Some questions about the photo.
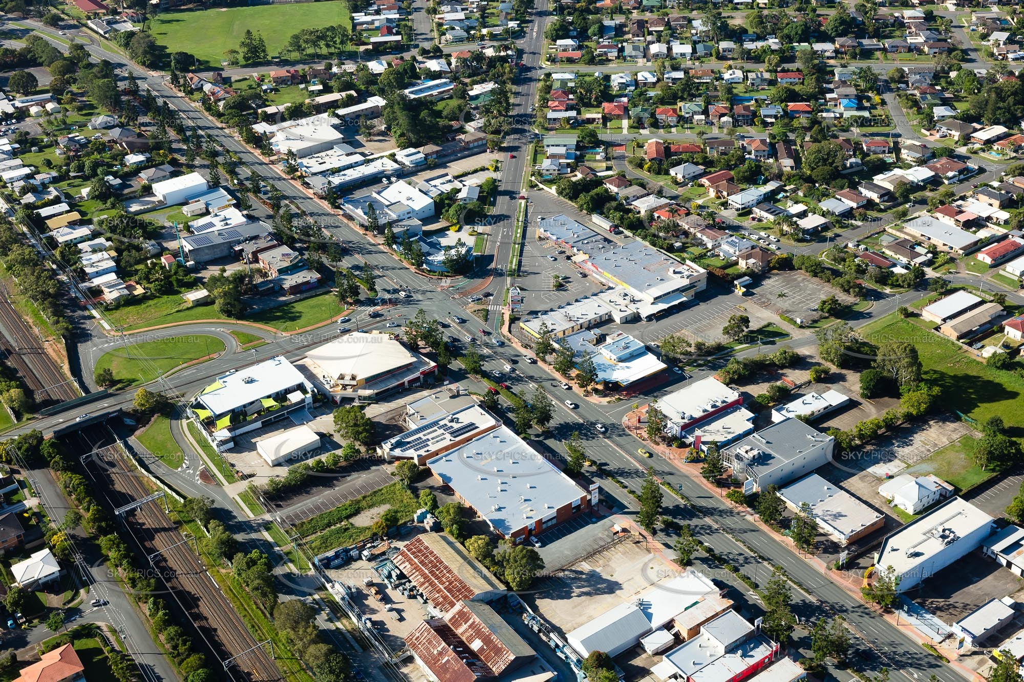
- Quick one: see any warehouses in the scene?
Yes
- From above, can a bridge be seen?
Yes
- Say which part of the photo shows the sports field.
top left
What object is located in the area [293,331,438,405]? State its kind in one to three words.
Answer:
building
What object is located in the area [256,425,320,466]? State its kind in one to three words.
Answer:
shed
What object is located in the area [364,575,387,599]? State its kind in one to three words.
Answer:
truck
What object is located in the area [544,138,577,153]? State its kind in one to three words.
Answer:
house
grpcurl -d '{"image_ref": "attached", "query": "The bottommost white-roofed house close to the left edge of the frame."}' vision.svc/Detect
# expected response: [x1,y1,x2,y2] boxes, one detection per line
[11,553,61,595]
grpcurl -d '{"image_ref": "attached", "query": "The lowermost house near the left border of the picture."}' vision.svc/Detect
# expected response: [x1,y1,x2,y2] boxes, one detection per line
[12,648,84,682]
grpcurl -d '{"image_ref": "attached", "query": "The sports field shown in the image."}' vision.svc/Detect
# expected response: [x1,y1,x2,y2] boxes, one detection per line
[148,0,356,65]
